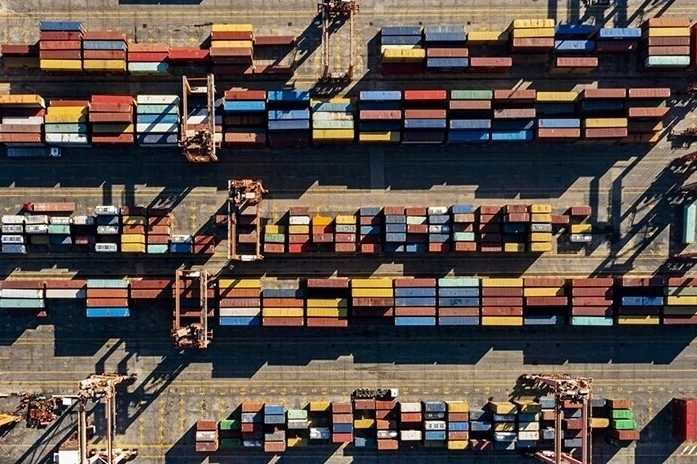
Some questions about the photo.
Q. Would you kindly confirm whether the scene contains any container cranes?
Yes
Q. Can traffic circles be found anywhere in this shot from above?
No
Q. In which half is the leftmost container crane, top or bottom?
bottom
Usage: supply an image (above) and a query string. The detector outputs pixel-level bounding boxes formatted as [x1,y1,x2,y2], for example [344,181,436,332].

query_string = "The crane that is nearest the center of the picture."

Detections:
[228,167,278,265]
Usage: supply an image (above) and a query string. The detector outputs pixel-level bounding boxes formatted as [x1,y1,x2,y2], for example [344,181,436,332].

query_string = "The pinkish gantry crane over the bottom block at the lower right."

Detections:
[525,373,596,464]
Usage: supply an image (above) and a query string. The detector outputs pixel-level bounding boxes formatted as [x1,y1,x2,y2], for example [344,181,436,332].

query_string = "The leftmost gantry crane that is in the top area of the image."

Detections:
[174,73,233,174]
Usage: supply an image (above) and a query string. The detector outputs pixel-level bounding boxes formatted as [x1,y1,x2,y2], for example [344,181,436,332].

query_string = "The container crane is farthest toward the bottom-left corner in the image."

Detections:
[73,374,143,464]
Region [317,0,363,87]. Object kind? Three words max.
container crane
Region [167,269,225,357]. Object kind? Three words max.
container crane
